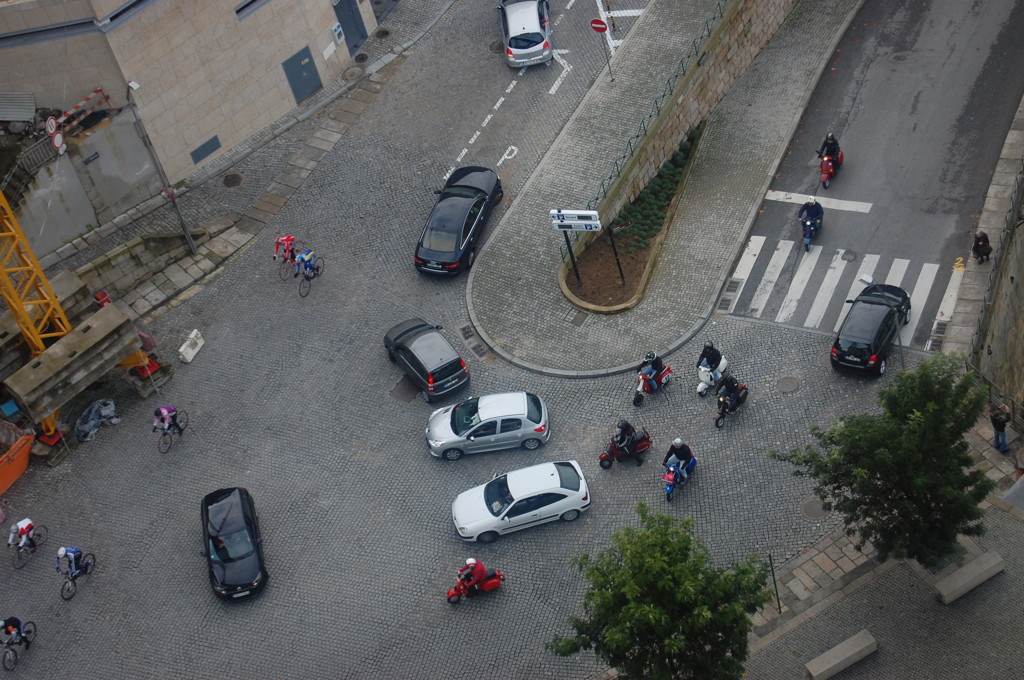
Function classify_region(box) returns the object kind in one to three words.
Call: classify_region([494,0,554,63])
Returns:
car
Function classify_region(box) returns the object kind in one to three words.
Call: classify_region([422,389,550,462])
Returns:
car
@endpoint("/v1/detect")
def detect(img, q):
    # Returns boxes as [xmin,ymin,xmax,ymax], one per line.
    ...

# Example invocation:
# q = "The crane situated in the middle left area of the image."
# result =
[0,179,162,446]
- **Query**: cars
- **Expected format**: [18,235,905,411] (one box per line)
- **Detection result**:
[494,0,554,63]
[197,480,268,596]
[826,284,913,382]
[413,172,503,278]
[451,460,590,544]
[382,320,470,405]
[422,389,550,462]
